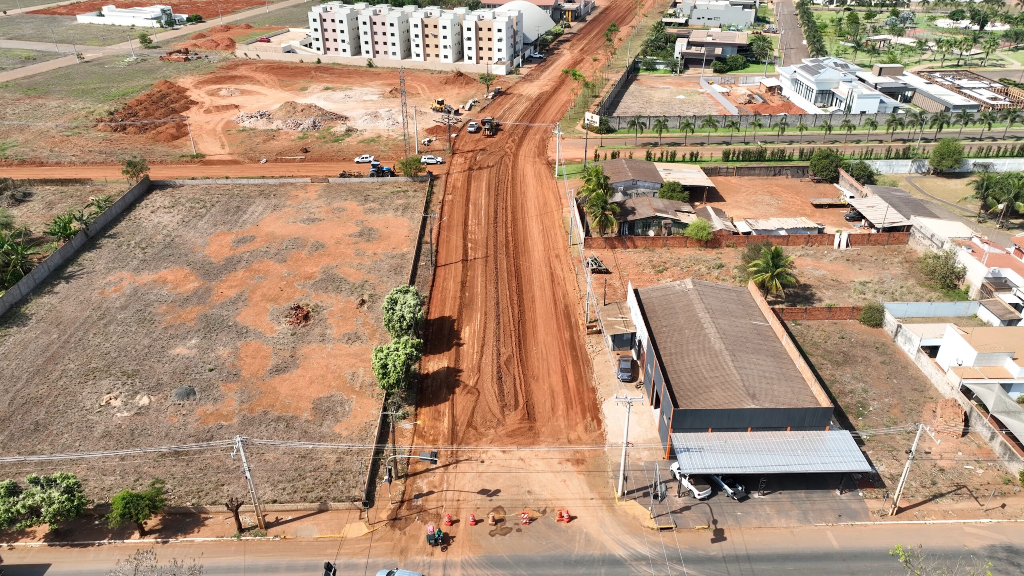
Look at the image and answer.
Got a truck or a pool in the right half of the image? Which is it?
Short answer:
truck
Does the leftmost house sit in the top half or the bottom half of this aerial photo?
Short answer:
top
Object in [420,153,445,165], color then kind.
white vehicle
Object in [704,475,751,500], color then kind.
black truck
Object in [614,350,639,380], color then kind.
gray car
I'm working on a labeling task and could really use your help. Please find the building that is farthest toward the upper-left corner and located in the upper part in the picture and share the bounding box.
[77,5,189,30]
